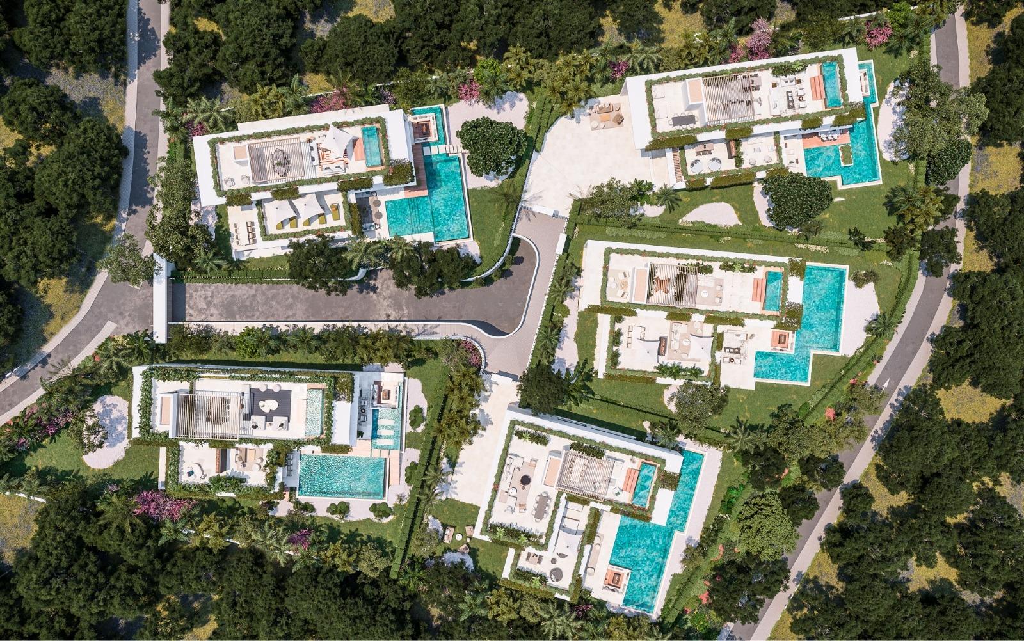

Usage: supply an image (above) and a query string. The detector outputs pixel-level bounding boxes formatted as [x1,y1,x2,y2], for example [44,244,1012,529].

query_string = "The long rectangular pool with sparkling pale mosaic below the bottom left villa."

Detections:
[296,454,390,503]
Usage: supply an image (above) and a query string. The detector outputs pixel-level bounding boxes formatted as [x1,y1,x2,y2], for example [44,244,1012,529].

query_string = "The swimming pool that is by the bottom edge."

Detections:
[610,446,708,617]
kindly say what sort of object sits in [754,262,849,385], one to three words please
swimming pool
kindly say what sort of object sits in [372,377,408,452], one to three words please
swimming pool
